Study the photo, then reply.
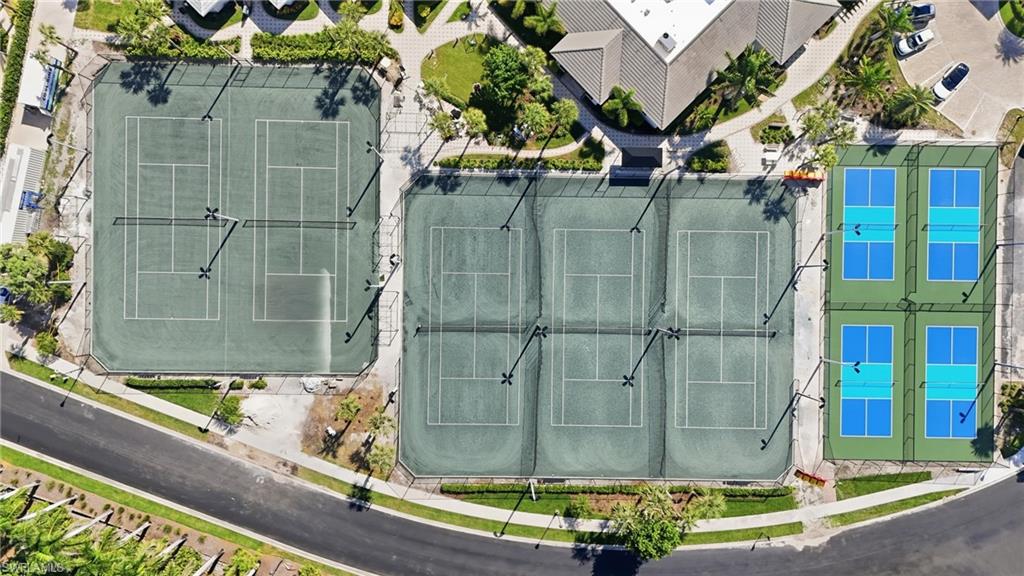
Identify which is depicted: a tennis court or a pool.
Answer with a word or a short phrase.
tennis court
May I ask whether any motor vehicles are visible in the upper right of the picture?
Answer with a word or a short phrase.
Yes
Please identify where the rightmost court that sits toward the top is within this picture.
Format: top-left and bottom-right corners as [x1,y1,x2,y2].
[911,146,998,304]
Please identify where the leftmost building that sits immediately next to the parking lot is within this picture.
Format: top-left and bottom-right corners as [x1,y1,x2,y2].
[533,0,849,130]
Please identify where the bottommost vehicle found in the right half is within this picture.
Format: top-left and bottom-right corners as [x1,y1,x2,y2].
[931,65,968,101]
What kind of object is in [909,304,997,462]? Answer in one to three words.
sports court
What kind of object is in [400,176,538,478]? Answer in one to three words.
tennis court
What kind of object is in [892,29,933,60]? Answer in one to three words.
car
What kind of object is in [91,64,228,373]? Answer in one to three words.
tennis court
